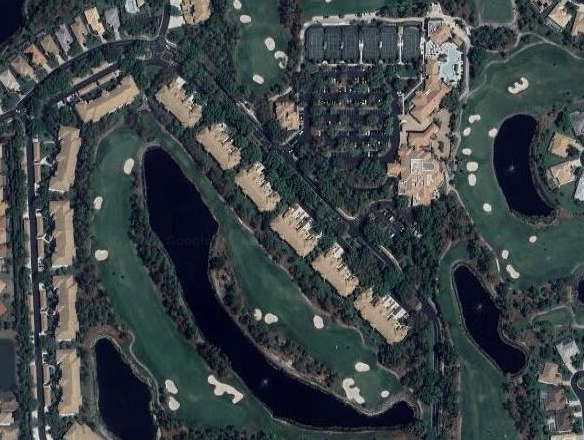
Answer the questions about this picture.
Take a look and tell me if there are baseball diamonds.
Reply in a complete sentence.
No, there appears to be no baseball diamond in this shot.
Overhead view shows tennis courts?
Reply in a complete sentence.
Yes, the image includes a tennis court.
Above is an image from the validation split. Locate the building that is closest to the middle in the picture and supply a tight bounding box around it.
[271,206,322,257]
